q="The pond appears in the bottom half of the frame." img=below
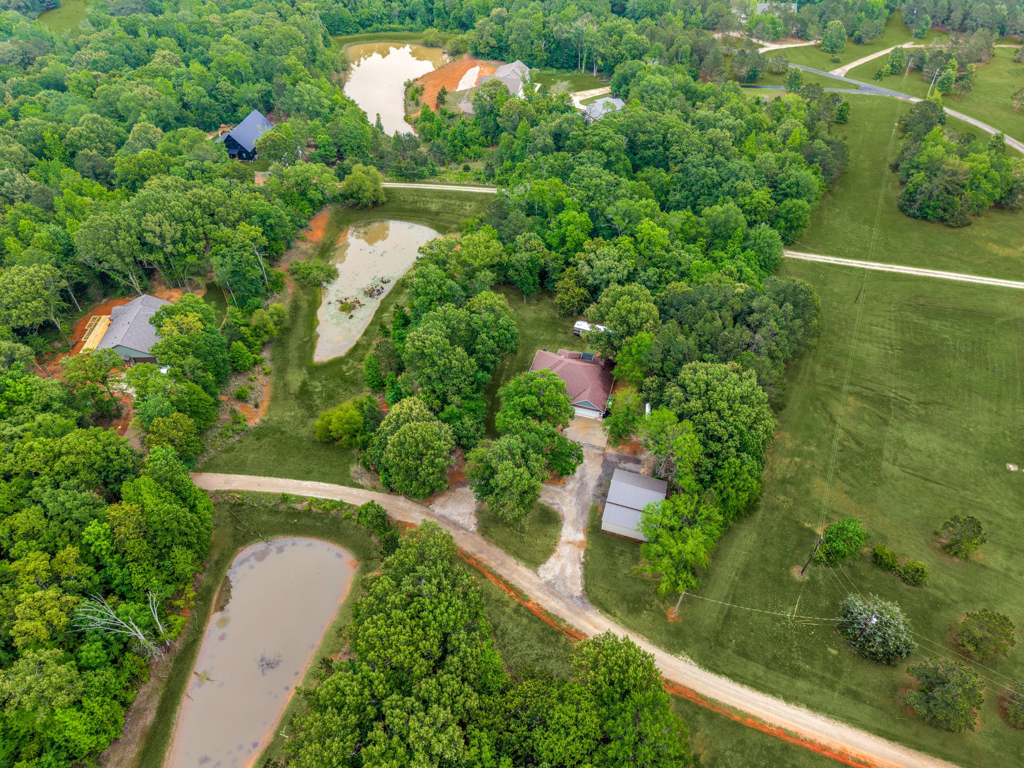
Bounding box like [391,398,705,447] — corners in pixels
[162,535,358,768]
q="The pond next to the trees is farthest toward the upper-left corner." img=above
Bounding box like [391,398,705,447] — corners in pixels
[345,42,450,145]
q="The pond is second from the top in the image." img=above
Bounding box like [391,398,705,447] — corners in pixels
[313,220,442,363]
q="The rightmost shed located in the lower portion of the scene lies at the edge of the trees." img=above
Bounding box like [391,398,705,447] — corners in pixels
[600,468,666,541]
